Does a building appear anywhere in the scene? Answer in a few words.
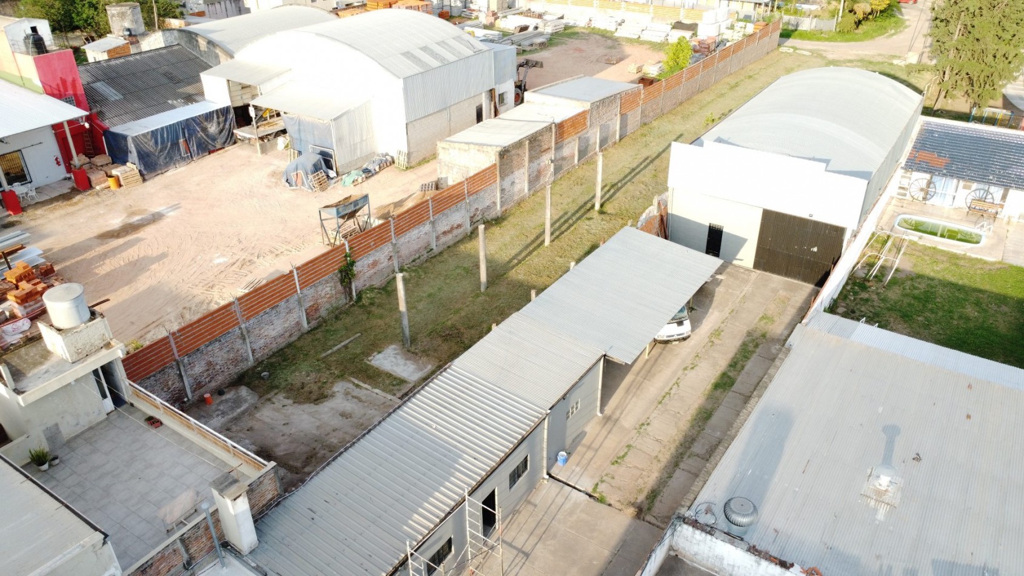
Yes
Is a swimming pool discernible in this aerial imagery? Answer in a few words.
Yes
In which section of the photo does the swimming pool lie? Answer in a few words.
right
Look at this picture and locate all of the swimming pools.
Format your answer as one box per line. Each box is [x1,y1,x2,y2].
[890,213,986,243]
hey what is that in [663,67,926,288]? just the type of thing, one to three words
warehouse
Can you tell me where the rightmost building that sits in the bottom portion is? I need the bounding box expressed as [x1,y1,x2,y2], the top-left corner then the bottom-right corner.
[632,306,1024,576]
